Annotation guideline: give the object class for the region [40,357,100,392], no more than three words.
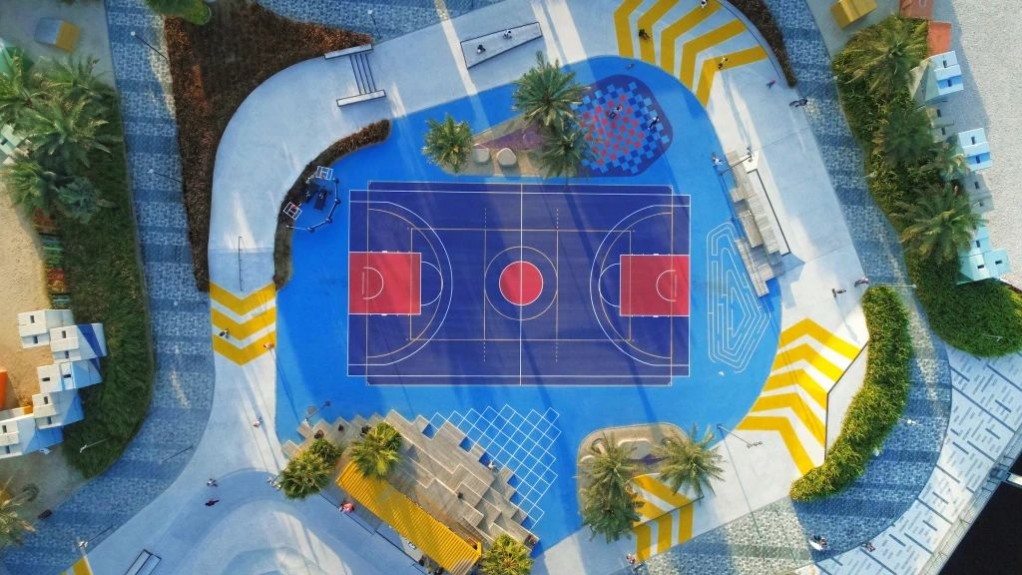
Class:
shed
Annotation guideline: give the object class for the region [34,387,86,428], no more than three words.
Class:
shed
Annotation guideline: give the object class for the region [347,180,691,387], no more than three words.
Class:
basketball court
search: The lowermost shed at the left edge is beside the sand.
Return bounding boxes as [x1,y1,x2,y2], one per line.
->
[0,415,55,458]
